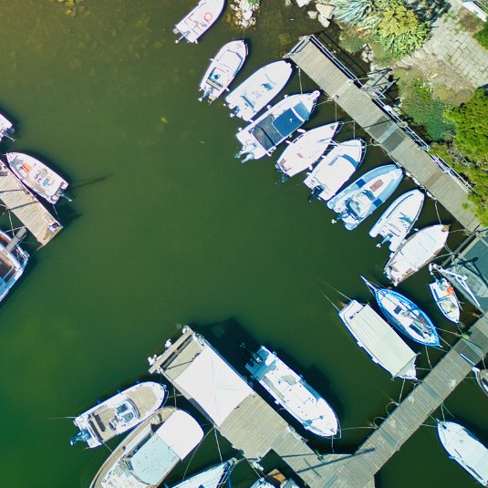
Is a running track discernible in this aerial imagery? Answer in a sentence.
No, I find no running track anywhere in the image.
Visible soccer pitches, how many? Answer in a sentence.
The picture shows no soccer pitches.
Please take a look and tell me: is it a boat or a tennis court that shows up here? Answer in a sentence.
Looking from above, you can make out a boat.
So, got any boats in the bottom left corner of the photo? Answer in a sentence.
Yes, a boat is visible in the bottom left corner of the photo.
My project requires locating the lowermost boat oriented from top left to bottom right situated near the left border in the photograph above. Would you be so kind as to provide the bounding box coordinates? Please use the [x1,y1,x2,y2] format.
[7,153,69,203]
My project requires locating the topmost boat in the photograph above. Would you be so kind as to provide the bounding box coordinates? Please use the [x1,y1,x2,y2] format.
[175,0,226,44]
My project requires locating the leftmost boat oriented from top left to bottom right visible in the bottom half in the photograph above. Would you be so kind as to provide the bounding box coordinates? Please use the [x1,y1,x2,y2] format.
[235,337,342,439]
